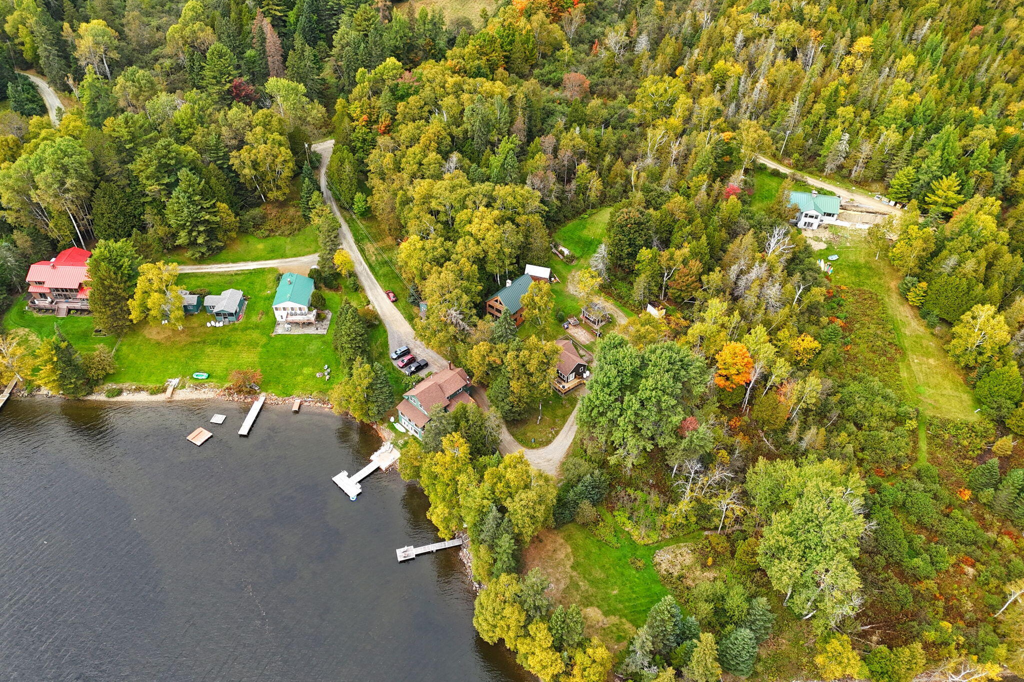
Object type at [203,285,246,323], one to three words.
building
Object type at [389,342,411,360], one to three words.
car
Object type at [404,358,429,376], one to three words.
vehicle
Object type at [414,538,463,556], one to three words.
pier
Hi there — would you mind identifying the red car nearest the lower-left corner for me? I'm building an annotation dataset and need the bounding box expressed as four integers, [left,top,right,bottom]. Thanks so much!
[396,353,416,368]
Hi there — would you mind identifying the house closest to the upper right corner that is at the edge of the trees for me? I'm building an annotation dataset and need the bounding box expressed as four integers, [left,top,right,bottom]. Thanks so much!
[788,190,840,227]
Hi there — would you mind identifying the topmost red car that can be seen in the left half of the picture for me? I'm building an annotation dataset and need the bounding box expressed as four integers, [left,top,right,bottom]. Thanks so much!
[385,289,397,302]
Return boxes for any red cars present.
[385,289,397,302]
[396,353,416,368]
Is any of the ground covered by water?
Yes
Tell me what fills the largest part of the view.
trees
